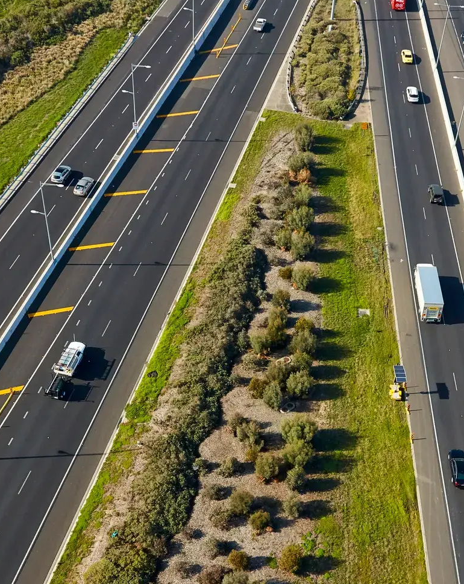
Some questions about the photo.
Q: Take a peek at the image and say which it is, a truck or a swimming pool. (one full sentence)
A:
Looking from above, you can make out a truck.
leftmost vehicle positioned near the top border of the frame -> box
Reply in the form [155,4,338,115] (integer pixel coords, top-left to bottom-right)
[253,19,266,32]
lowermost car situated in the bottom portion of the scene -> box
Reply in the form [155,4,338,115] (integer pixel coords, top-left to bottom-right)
[448,453,464,490]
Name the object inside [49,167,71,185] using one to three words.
car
